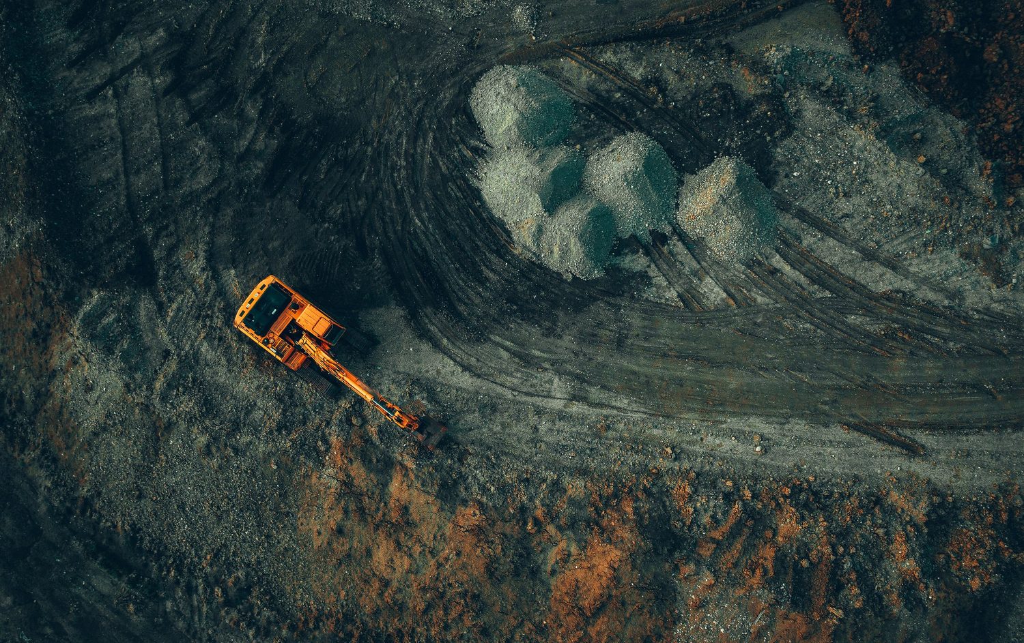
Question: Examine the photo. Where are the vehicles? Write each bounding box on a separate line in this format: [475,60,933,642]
[237,276,448,452]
